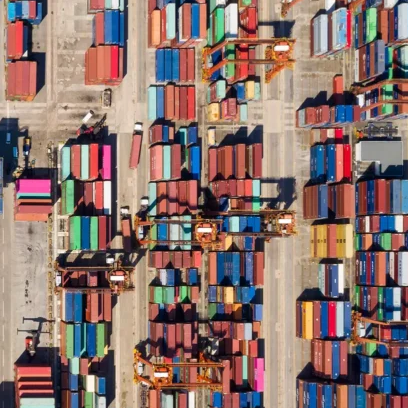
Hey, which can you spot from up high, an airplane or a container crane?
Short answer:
container crane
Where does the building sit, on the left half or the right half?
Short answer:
right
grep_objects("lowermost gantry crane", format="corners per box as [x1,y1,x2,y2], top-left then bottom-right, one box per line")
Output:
[136,348,225,389]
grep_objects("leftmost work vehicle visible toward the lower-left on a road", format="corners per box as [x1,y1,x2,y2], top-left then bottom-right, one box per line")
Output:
[18,328,52,352]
